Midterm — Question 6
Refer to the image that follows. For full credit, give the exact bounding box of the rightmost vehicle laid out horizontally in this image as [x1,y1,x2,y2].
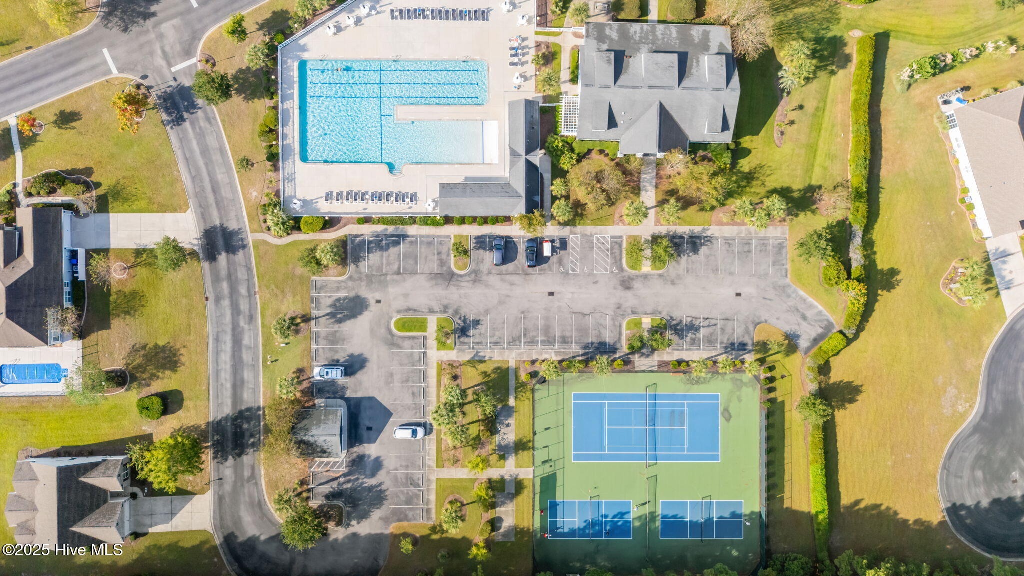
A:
[393,427,424,442]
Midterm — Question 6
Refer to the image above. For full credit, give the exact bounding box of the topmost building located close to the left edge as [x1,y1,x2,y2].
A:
[0,207,75,347]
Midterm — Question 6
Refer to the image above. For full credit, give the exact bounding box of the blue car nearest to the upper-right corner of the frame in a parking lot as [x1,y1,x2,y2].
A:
[524,239,538,268]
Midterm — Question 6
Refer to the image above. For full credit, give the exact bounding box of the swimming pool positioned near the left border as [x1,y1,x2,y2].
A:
[0,359,68,384]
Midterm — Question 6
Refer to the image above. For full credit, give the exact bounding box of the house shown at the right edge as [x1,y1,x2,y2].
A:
[948,86,1024,237]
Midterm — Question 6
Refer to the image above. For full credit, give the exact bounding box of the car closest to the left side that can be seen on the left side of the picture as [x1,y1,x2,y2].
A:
[312,367,343,382]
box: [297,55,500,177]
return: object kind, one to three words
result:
swimming pool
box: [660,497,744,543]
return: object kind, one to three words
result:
sports court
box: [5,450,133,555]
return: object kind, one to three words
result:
house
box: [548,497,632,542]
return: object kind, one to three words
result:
sports court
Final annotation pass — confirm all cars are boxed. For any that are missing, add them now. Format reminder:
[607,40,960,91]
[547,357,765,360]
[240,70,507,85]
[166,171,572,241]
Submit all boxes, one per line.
[524,239,538,268]
[393,427,424,442]
[312,367,343,382]
[492,238,506,266]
